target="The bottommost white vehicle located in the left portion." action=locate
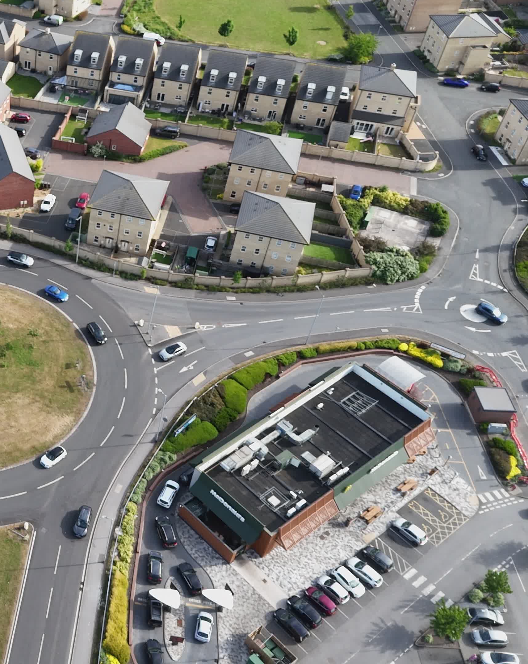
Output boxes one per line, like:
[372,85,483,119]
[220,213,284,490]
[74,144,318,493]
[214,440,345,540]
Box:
[193,608,217,647]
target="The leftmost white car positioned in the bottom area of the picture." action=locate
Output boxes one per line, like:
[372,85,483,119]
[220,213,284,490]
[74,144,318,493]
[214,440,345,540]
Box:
[38,445,69,470]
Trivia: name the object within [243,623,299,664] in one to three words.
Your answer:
building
